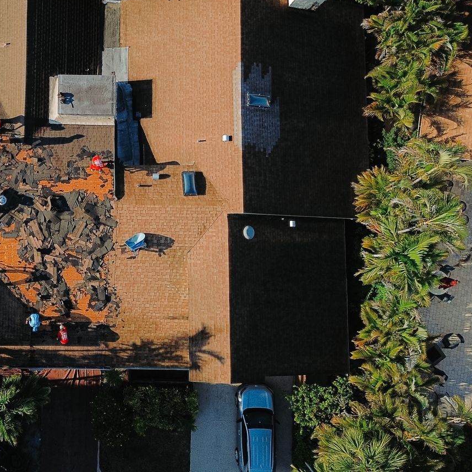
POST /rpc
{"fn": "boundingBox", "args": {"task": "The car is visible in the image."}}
[234,381,282,472]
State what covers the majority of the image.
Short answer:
buildings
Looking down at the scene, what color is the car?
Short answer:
blue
